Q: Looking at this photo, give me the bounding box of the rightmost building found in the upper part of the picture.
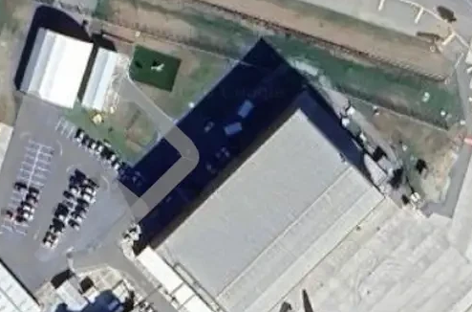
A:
[82,49,116,109]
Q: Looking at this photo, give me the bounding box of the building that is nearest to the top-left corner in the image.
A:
[20,28,94,109]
